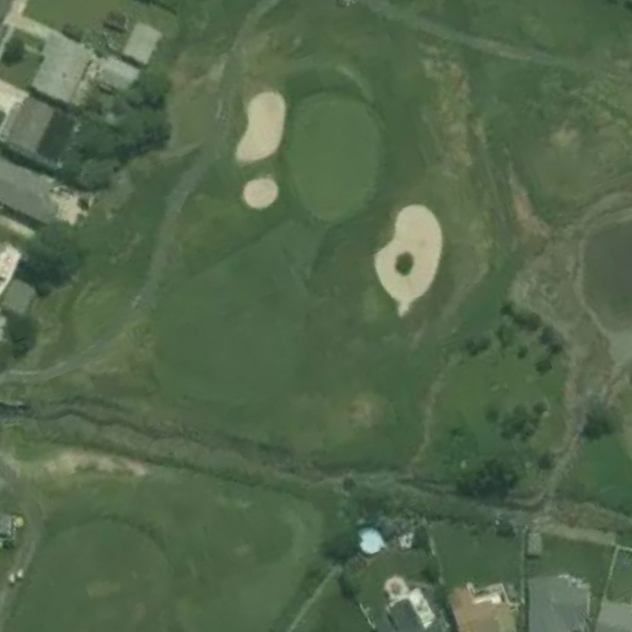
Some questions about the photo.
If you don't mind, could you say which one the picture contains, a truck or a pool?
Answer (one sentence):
This aerial view contains a pool.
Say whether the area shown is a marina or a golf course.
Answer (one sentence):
The area seen from above is a golf course.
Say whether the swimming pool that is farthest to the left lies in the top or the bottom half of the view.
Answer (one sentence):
The swimming pool that is farthest to the left sits in the bottom half of the picture.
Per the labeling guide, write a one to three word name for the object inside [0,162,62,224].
house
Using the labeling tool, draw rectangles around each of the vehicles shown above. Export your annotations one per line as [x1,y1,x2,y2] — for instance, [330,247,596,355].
[16,567,23,578]
[7,572,14,583]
